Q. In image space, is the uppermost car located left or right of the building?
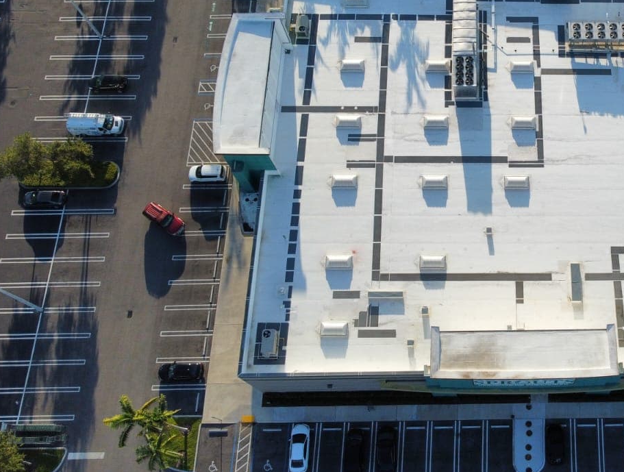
to the left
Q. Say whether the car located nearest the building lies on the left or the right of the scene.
left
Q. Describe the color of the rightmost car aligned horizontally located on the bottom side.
black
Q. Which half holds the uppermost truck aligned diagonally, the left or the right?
left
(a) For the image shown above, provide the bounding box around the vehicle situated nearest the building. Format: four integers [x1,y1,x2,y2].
[186,162,228,182]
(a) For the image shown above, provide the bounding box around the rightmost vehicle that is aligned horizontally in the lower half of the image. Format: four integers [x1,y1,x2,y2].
[153,360,206,384]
